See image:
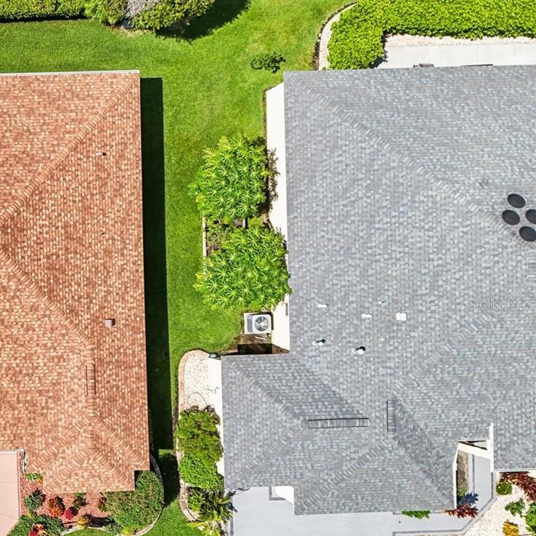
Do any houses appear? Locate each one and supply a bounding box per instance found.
[0,69,151,495]
[209,67,536,517]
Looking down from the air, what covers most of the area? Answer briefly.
buildings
